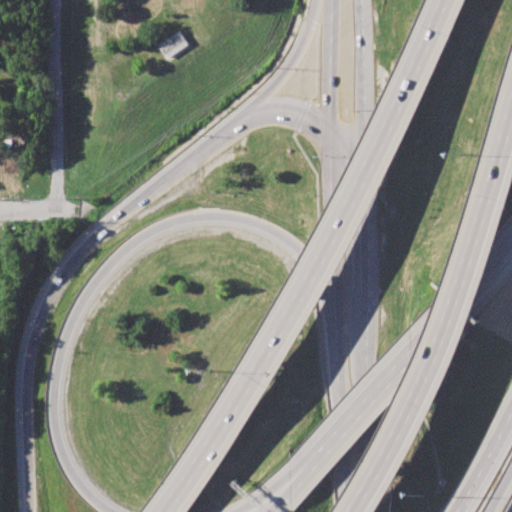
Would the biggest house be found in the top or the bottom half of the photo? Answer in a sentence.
It is in the top half that the biggest house appears.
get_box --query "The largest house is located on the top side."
[158,32,190,66]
